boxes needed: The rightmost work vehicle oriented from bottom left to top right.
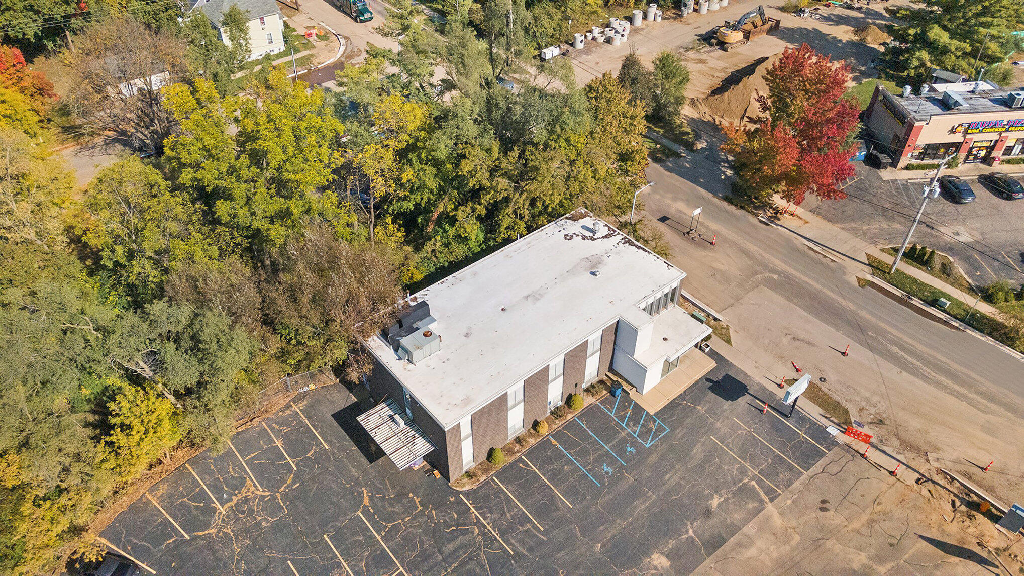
[710,0,762,48]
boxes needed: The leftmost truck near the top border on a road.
[324,0,372,22]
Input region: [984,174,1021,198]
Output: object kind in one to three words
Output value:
car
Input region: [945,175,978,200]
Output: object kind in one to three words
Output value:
car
